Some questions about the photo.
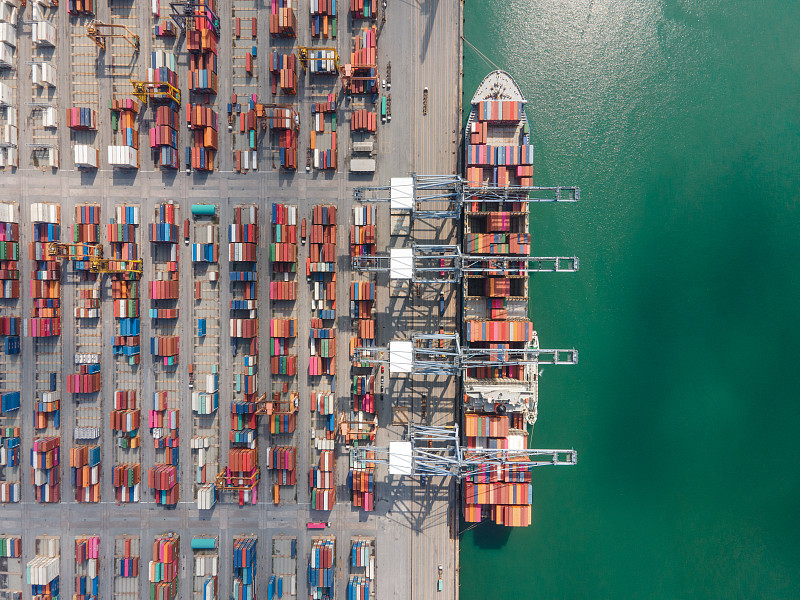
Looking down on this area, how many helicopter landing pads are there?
0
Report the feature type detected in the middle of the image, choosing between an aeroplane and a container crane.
container crane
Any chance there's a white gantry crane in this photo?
Yes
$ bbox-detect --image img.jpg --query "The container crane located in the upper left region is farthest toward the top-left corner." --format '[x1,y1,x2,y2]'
[82,22,141,52]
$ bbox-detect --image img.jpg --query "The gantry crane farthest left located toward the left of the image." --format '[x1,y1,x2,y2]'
[41,242,102,262]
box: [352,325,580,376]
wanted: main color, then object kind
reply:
white container crane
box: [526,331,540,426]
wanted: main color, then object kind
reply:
white ship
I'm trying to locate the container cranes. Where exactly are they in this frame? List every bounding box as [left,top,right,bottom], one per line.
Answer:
[82,22,141,52]
[338,64,381,92]
[41,242,102,262]
[353,172,582,228]
[352,325,580,376]
[170,2,222,34]
[352,243,581,290]
[255,104,302,130]
[255,393,301,416]
[209,465,262,491]
[338,412,380,435]
[125,77,182,105]
[352,412,580,475]
[294,46,341,76]
[84,257,142,276]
